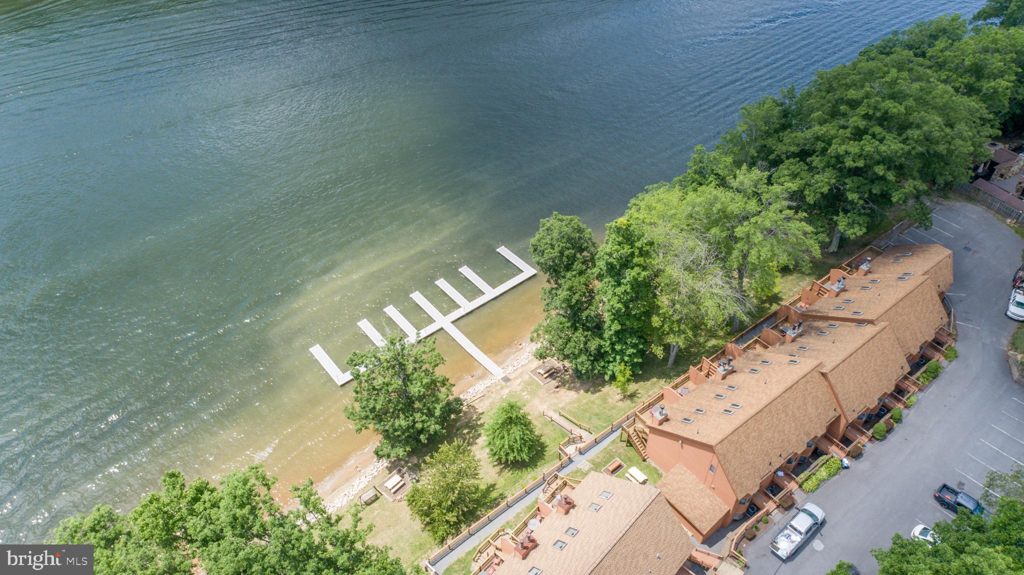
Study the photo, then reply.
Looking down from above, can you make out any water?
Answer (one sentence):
Yes, some water is visible.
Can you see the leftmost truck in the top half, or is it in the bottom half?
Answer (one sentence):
The leftmost truck is in the bottom half of the image.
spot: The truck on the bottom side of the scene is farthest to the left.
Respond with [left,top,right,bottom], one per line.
[766,504,824,564]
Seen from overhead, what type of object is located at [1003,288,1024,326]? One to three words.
truck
